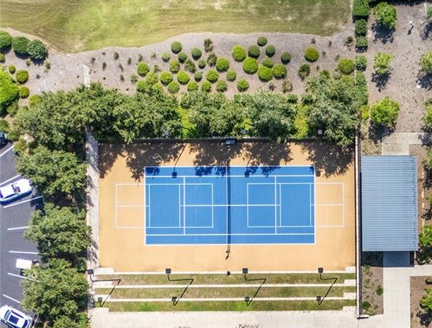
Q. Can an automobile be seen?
Yes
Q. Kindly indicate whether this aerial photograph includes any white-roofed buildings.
No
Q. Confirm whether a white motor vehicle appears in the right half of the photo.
No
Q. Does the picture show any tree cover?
Yes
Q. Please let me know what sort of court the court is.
tennis court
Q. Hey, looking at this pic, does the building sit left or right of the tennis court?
right of it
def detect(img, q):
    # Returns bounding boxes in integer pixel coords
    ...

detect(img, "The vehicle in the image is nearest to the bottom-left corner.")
[0,305,29,328]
